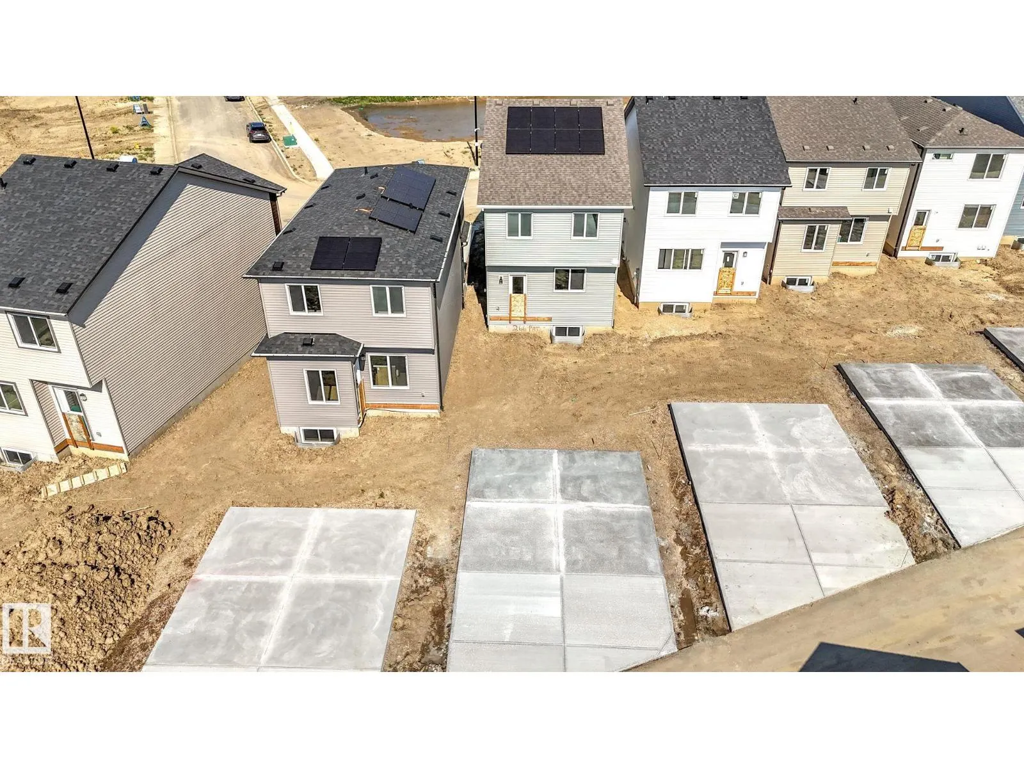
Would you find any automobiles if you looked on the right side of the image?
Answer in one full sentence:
No, there's no automobile to be seen on the right side of the image.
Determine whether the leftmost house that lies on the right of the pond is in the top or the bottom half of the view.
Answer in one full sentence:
The top half of the photo is where the leftmost house that lies on the right of the pond is.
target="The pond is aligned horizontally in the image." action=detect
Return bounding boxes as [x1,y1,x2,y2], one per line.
[359,101,482,142]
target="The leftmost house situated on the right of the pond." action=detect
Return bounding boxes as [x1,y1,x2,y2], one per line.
[475,97,635,342]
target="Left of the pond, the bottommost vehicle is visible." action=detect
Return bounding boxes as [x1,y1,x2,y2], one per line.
[241,115,268,140]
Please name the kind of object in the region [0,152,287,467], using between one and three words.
house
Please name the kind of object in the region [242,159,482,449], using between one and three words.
house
